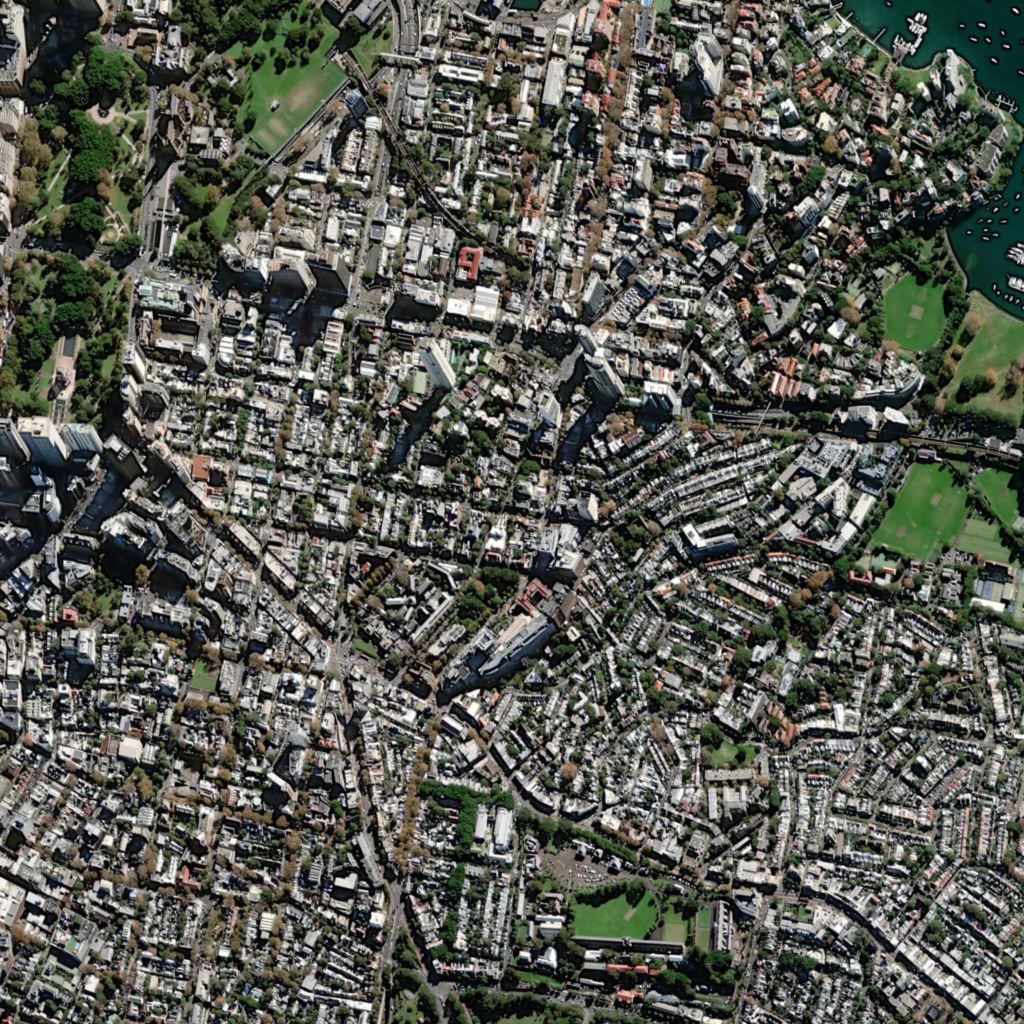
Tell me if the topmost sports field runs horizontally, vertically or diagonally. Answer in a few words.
diagonally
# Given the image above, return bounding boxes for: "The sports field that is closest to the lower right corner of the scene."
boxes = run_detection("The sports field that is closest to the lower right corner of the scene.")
[575,886,659,939]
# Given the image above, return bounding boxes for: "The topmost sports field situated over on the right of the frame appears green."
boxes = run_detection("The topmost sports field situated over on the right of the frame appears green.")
[883,273,947,352]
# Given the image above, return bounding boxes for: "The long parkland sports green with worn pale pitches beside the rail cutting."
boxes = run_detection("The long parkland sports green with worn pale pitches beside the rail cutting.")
[253,50,347,154]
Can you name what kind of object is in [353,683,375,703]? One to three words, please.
building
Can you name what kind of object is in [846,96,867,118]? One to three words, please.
house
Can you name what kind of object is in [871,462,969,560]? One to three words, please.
sports field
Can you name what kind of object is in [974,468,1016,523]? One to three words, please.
sports field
